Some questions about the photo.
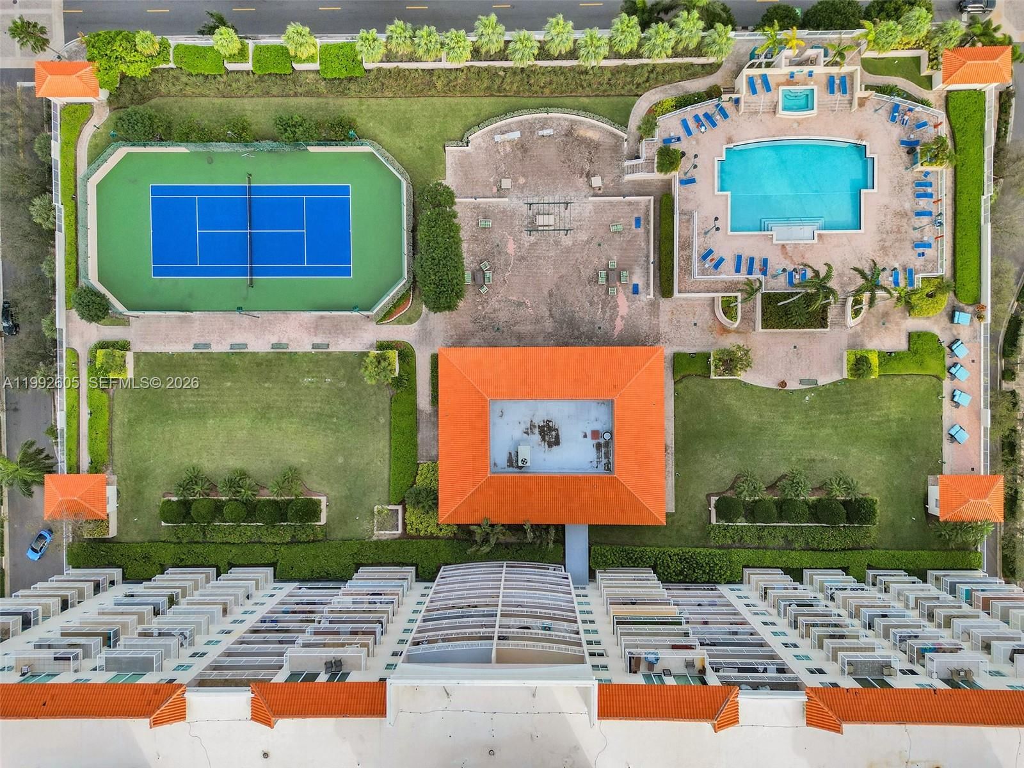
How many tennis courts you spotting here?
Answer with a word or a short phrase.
1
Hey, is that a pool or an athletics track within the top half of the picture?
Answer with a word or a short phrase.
pool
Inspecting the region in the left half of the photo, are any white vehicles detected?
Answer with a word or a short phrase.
No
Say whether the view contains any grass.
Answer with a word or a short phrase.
Yes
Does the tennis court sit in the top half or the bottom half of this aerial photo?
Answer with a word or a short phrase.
top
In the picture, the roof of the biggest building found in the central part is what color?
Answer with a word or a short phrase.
orange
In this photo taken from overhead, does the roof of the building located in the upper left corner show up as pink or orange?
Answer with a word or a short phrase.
orange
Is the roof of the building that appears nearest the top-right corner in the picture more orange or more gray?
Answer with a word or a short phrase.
orange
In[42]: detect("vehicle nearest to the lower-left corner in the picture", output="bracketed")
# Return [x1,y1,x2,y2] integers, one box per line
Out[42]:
[29,528,56,562]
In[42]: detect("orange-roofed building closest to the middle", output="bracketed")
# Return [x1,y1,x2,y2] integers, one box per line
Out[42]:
[437,347,667,526]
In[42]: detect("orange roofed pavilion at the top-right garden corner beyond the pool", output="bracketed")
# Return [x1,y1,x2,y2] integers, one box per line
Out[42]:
[925,45,1014,95]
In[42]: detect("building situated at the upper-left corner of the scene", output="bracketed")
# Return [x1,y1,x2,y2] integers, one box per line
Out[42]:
[33,61,117,106]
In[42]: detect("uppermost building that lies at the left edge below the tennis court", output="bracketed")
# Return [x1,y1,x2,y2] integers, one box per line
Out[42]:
[43,474,122,538]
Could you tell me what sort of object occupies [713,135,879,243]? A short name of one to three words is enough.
swimming pool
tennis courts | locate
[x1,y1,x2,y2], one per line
[95,151,405,312]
